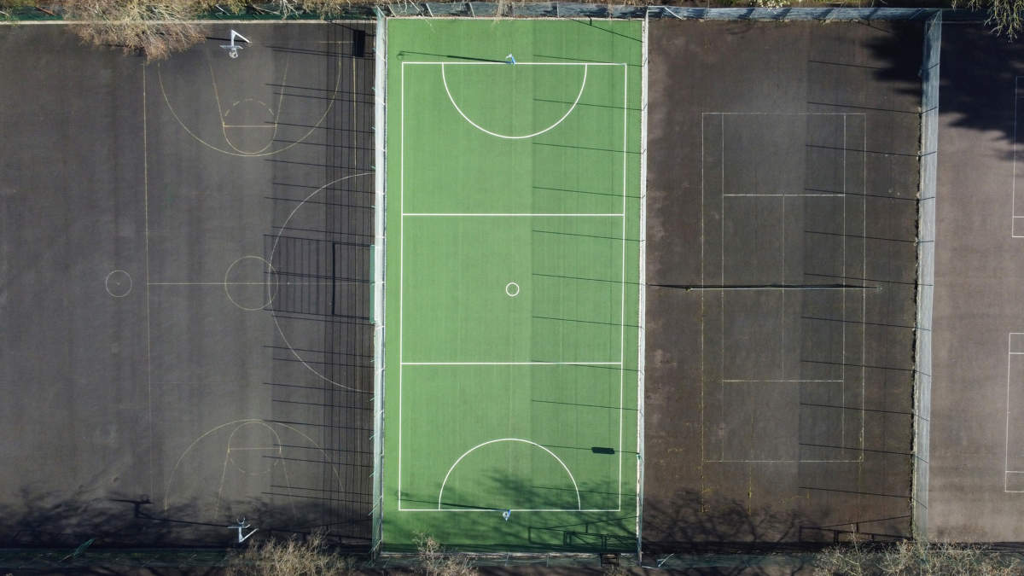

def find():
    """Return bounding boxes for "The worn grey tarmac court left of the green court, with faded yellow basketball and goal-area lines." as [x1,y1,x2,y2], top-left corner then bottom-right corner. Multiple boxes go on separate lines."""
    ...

[0,19,386,554]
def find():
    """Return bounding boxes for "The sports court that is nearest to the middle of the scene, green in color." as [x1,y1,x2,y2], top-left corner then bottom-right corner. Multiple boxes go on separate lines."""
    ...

[385,20,642,555]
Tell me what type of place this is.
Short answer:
sports ground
